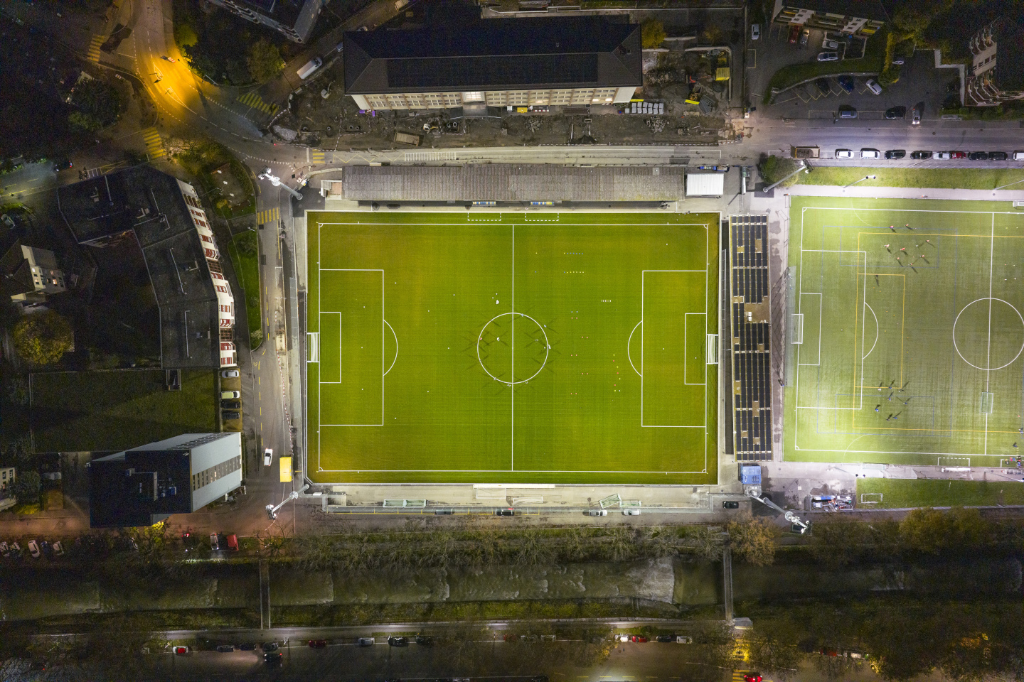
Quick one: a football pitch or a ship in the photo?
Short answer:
football pitch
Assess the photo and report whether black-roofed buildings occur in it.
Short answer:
Yes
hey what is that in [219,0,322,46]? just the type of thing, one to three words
house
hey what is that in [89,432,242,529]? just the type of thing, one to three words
building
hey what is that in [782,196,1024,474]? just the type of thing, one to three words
soccer field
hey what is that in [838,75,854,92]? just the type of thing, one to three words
car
